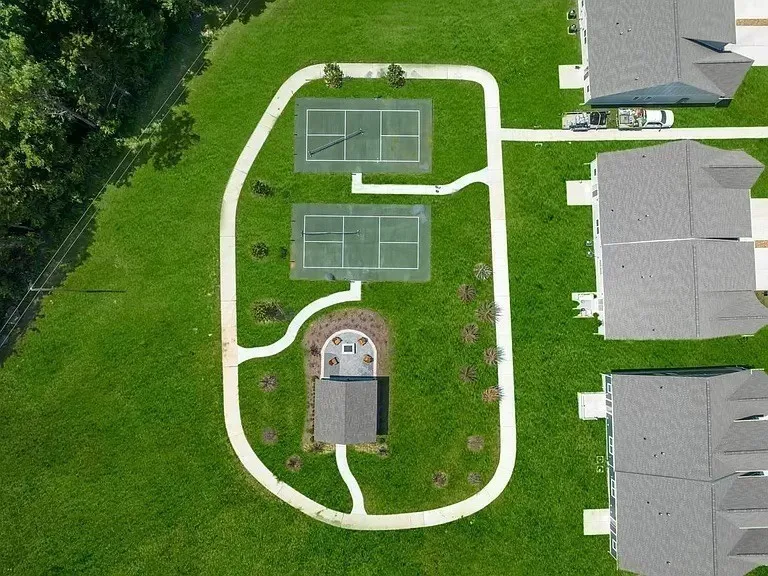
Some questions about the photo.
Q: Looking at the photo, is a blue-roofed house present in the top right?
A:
No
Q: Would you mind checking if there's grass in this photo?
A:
Yes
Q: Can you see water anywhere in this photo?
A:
No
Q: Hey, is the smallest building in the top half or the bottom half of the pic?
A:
bottom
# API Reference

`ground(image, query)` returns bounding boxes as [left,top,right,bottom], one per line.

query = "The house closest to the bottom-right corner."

[599,370,768,576]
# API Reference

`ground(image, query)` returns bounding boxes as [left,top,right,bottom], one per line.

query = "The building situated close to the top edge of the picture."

[580,0,752,105]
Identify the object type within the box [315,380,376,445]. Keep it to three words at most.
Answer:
building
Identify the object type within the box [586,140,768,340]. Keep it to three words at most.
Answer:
house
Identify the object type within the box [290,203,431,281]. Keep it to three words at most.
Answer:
sports court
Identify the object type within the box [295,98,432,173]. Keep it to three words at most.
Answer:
sports court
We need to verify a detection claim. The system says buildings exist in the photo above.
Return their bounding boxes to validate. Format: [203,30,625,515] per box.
[586,140,768,340]
[599,370,768,576]
[315,380,376,445]
[580,0,752,105]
